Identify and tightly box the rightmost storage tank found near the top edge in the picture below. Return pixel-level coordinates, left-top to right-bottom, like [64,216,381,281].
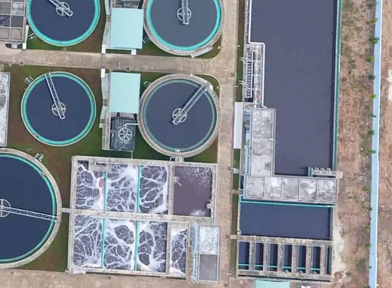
[140,0,225,59]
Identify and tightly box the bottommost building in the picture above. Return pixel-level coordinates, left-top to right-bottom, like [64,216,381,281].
[190,224,220,283]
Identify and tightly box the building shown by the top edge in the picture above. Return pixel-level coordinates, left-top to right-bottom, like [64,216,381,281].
[99,0,144,49]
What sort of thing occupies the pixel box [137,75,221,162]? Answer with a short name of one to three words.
storage tank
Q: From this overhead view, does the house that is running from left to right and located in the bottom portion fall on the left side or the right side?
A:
right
